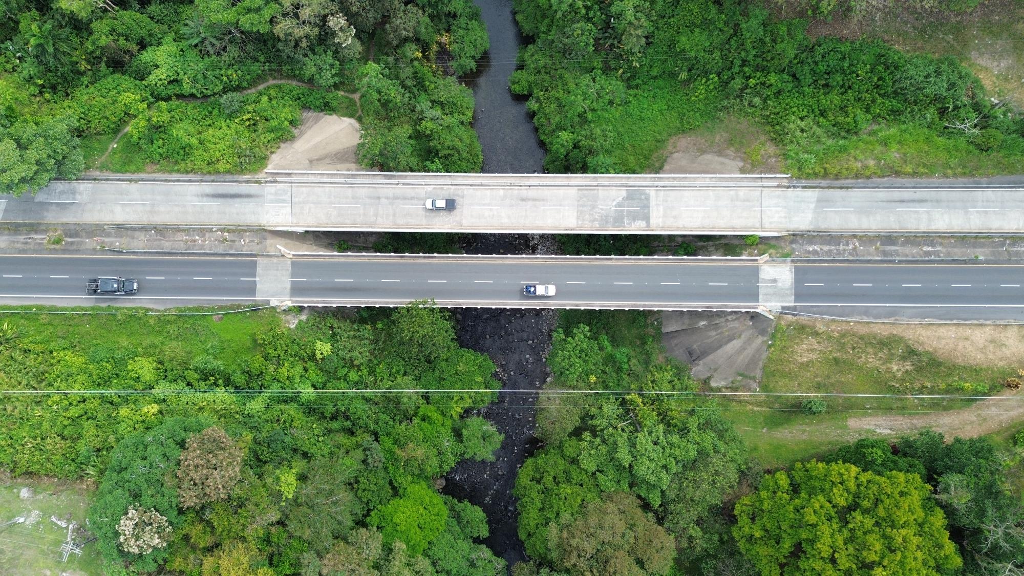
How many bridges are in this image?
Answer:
two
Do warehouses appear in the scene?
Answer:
No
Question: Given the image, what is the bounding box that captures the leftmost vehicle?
[86,277,140,295]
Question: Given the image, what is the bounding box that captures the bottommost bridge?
[256,245,794,320]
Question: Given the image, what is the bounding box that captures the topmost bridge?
[263,170,794,237]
